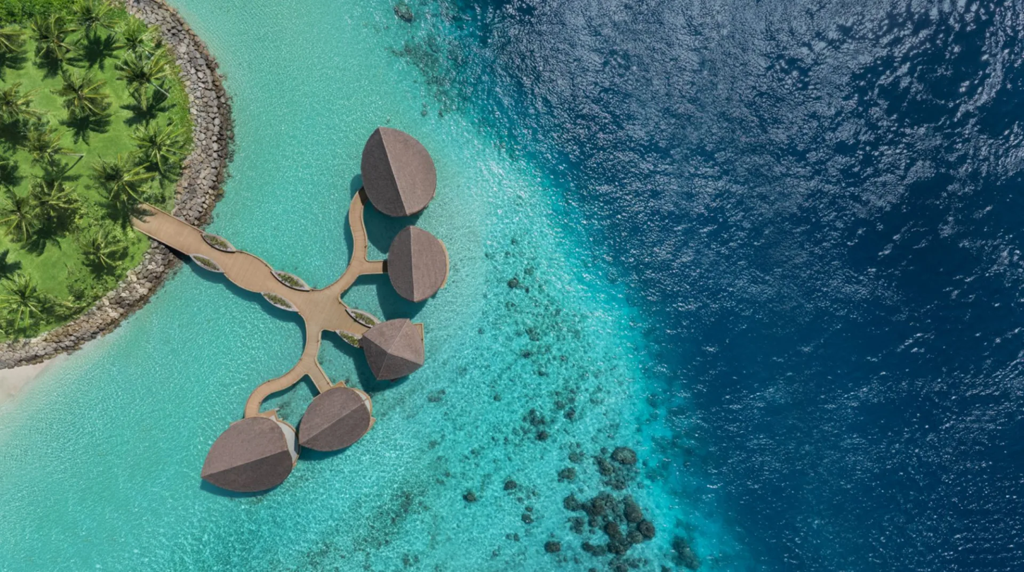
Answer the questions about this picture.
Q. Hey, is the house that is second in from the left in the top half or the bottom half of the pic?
bottom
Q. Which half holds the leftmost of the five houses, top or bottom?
bottom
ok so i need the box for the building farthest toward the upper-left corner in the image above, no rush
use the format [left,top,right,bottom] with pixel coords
[361,126,437,216]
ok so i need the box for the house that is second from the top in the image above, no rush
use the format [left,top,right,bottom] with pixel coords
[388,225,449,303]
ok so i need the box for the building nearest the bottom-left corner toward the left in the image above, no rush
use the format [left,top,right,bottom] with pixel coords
[201,407,301,492]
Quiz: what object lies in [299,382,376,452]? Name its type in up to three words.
house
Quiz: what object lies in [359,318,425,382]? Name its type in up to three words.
house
